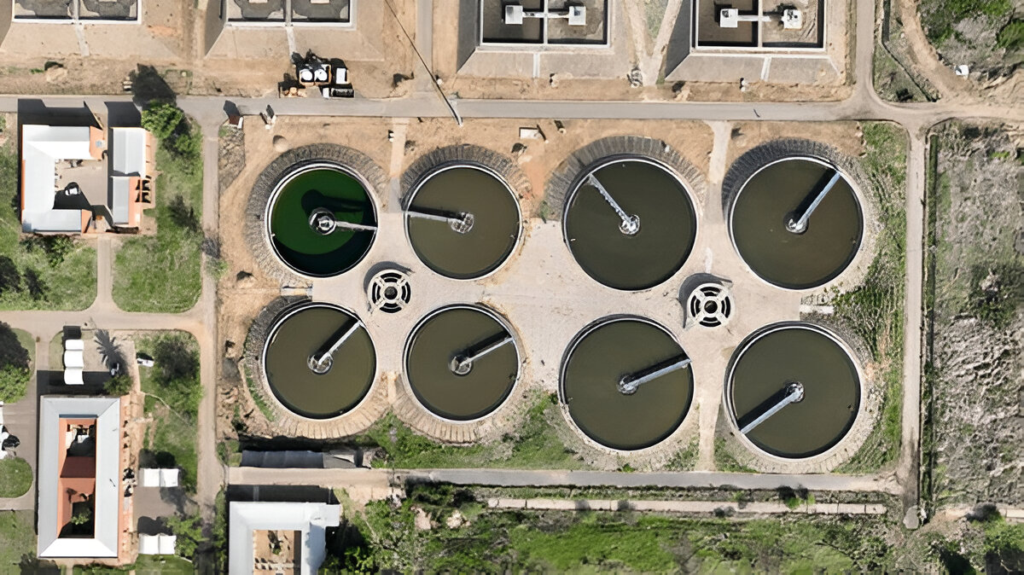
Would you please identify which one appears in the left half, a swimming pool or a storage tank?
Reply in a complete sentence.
The one visible in the left half is a storage tank.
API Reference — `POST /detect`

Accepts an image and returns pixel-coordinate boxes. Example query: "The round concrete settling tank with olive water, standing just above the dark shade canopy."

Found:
[245,295,393,439]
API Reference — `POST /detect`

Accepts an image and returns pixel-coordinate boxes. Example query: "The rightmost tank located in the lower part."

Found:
[718,312,874,474]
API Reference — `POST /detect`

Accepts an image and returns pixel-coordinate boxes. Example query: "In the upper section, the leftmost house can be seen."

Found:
[22,125,110,232]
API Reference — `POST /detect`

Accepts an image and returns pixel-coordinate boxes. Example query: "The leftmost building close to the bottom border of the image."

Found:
[39,395,126,558]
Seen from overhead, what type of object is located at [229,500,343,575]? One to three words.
house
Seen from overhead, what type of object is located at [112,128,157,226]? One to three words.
house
